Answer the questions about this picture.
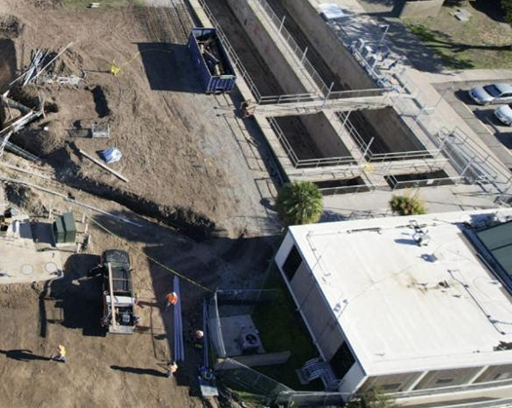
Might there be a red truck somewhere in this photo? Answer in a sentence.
No, there is no red truck in the image.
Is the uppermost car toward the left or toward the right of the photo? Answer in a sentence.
The uppermost car appears in the right half of the scene.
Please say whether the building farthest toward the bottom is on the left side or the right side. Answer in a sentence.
The building farthest toward the bottom is on the right side of the image.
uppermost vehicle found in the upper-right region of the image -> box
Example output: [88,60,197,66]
[470,82,512,107]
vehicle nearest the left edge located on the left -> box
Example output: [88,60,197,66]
[104,248,148,339]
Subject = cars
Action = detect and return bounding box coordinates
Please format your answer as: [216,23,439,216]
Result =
[492,107,512,128]
[470,82,512,107]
